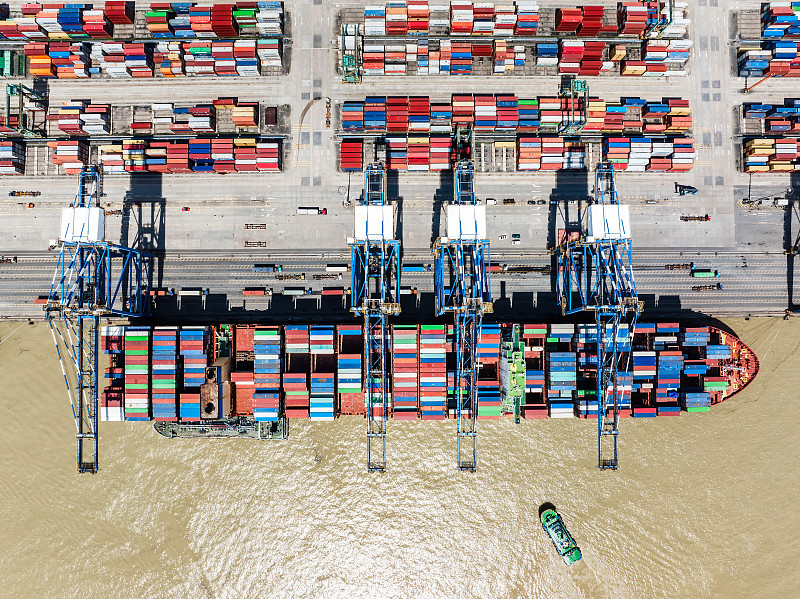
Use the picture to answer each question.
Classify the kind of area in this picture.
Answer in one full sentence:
It's a port.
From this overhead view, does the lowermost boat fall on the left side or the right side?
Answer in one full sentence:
The lowermost boat appears in the right half of the scene.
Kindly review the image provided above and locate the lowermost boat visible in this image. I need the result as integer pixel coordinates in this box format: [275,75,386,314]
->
[541,501,581,566]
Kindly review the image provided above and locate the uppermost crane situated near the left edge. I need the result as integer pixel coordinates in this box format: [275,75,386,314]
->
[0,24,30,84]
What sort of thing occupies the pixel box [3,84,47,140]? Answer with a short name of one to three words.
container crane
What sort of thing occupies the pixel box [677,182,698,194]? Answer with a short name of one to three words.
vehicle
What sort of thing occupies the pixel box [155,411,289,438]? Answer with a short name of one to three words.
ship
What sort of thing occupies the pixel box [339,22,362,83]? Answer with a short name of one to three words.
container crane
